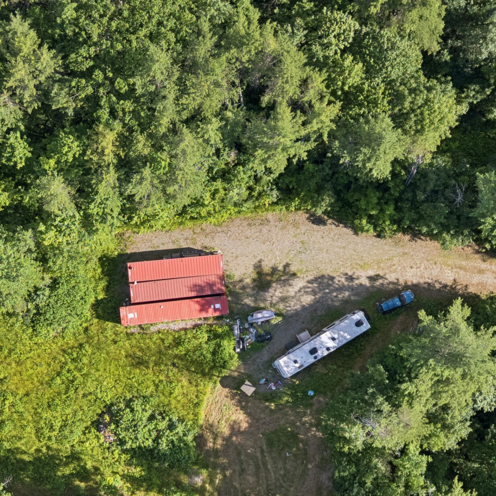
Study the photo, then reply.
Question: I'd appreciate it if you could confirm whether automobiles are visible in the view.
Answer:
Yes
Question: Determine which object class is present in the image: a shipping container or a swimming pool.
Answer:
shipping container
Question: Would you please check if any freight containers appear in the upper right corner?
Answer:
No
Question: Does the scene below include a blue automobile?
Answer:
Yes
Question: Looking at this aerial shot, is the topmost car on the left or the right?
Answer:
right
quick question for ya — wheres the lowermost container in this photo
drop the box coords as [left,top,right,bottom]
[120,295,228,326]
